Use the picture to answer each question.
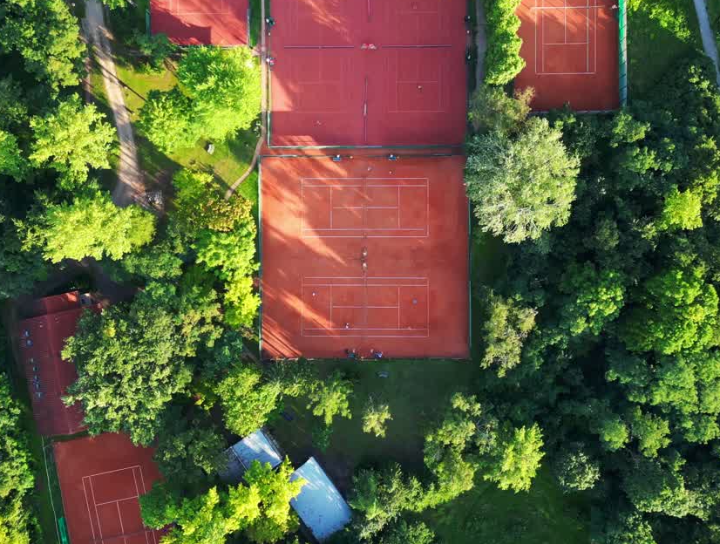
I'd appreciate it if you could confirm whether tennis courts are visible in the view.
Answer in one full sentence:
Yes, there's a tennis court here.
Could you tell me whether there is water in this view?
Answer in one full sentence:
No, the picture contains no water.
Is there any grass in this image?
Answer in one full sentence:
Yes, some grass is visible.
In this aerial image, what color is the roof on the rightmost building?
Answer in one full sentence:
The roof over the rightmost building appears blue.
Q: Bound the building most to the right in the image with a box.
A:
[292,456,354,539]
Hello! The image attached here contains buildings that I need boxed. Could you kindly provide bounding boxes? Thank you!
[231,428,283,474]
[292,456,354,539]
[23,286,111,433]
